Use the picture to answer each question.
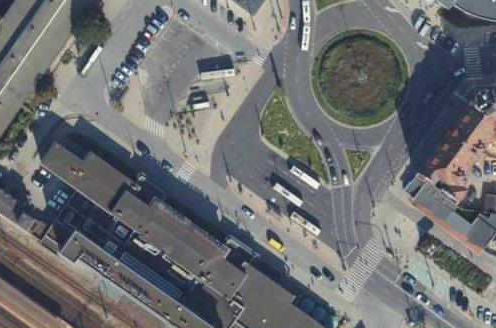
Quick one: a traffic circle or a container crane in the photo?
traffic circle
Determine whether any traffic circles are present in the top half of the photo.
Yes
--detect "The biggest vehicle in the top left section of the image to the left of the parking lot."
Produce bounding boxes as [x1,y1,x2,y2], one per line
[80,45,104,77]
